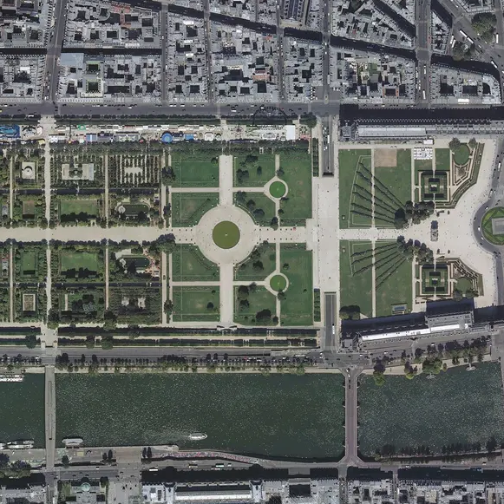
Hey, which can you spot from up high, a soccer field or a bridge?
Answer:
bridge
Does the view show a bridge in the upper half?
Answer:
No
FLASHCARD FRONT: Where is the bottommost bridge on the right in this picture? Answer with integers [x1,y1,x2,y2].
[334,365,370,469]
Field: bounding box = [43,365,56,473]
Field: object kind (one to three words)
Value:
bridge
